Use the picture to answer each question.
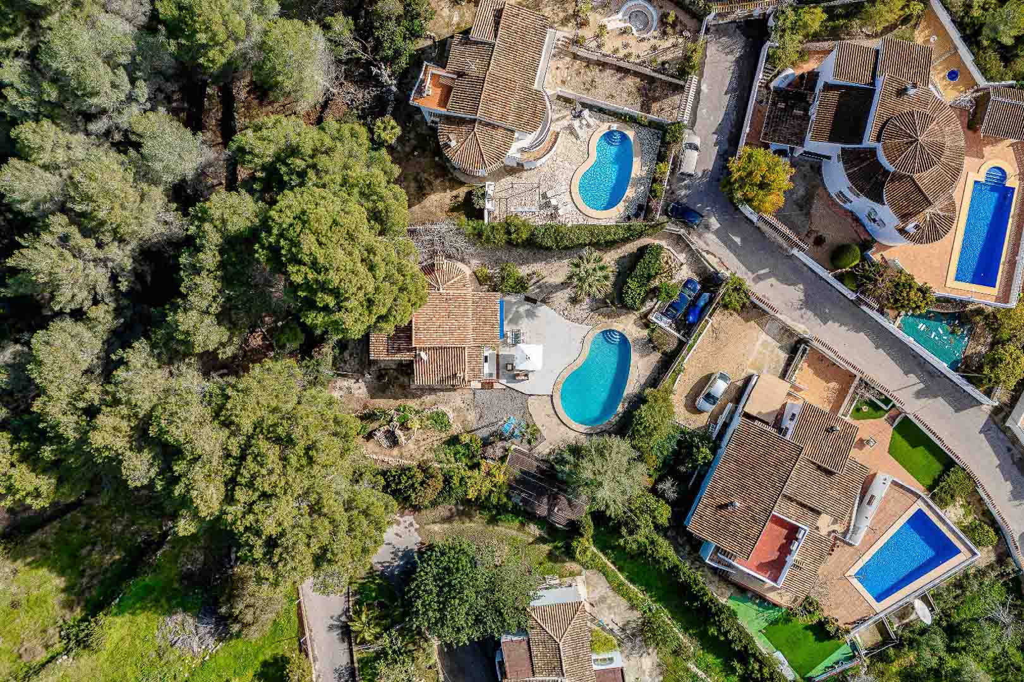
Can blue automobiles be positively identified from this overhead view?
Yes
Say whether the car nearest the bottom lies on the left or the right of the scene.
right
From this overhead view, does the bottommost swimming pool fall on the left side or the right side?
right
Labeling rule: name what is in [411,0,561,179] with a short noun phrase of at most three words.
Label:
house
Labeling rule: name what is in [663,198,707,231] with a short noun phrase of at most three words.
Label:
car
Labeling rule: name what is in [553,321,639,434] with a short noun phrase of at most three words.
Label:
swimming pool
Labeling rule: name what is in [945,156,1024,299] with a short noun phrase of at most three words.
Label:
swimming pool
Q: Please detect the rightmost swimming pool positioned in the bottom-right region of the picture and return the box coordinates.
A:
[844,498,973,614]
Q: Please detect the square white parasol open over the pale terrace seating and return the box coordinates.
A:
[516,343,543,370]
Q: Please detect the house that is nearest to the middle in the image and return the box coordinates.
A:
[369,247,504,388]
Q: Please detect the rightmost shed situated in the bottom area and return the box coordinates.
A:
[996,396,1024,453]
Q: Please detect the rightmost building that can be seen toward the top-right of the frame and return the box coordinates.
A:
[967,84,1024,148]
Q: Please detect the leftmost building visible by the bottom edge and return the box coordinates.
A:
[501,572,625,682]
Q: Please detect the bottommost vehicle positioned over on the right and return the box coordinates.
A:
[695,369,731,414]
